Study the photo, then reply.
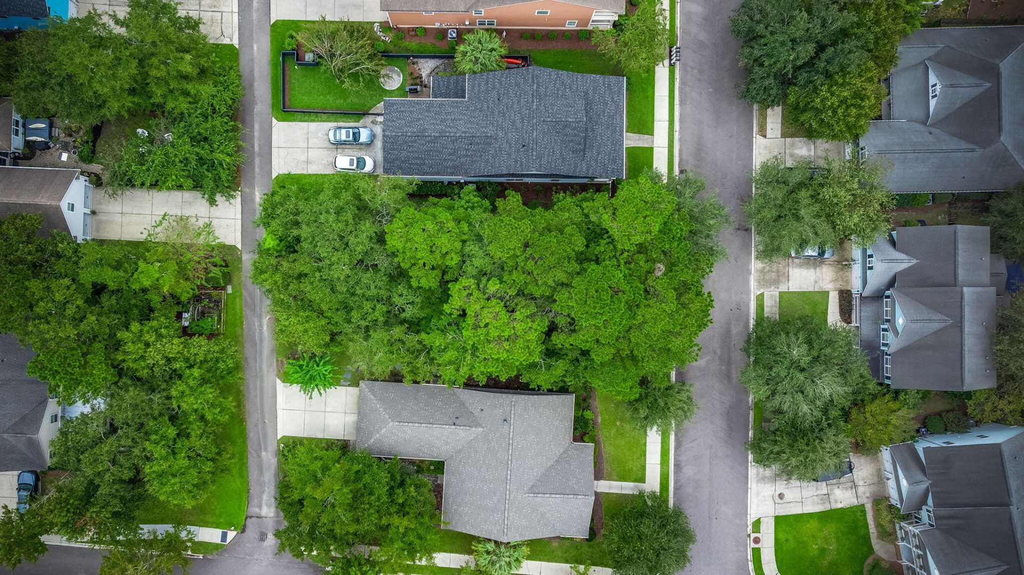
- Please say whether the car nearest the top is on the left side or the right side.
left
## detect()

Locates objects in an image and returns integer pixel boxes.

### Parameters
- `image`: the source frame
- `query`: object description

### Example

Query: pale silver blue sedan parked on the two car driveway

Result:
[328,125,373,145]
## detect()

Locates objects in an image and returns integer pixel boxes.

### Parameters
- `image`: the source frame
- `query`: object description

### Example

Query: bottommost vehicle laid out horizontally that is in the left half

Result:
[333,153,375,173]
